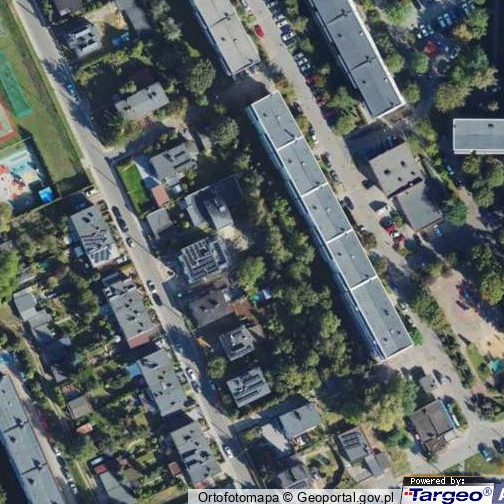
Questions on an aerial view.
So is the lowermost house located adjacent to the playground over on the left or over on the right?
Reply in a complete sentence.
You can find the lowermost house located adjacent to the playground on the left side of the picture.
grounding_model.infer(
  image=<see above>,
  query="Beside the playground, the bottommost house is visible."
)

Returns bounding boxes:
[71,203,120,267]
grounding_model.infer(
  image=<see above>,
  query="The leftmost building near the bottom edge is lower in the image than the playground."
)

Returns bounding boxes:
[0,376,67,504]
